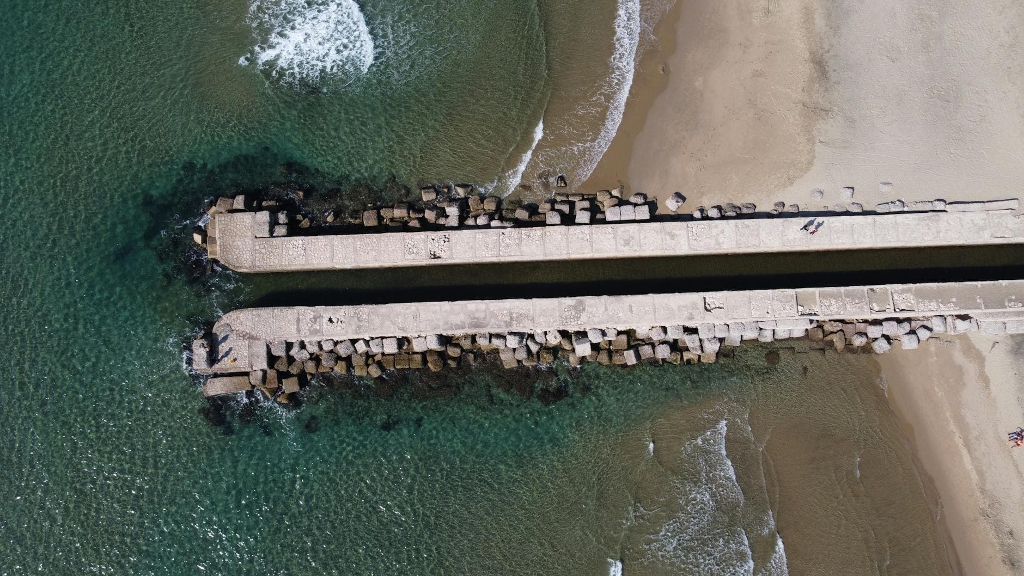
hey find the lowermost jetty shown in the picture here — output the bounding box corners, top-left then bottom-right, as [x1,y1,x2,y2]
[212,279,1024,371]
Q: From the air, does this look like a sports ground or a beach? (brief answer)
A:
beach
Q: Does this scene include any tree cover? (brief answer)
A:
No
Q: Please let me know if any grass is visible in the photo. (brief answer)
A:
No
